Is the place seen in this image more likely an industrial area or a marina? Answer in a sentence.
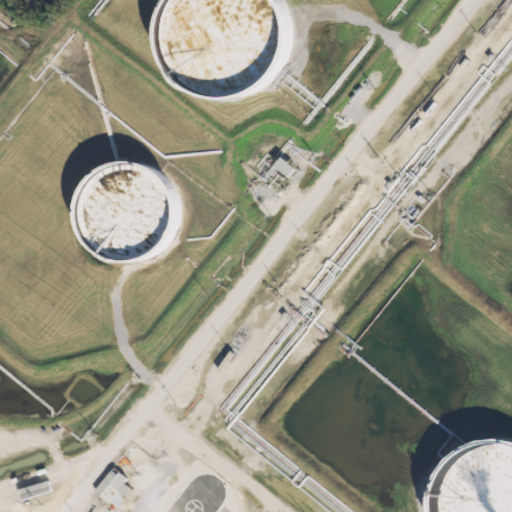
This looks like an industrial area.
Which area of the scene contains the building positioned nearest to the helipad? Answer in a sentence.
The building positioned nearest to the helipad appears toward the bottom left of the photo.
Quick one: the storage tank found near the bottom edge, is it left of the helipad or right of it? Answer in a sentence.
Relative to the helipad, the storage tank found near the bottom edge lies to the right.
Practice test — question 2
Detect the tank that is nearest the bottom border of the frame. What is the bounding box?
[422,437,512,512]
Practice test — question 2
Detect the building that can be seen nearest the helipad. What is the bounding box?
[96,470,132,498]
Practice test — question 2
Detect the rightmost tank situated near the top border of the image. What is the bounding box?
[151,0,292,100]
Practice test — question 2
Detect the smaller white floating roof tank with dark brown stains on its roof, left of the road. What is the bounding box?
[72,160,182,266]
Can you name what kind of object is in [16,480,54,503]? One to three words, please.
building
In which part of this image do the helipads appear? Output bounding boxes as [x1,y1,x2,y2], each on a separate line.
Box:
[168,474,224,512]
